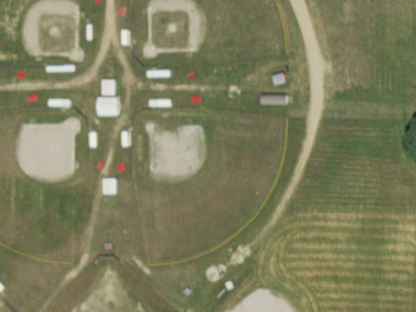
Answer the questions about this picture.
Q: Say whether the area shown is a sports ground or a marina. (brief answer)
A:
sports ground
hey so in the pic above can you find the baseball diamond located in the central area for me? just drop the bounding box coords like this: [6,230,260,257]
[133,110,288,264]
